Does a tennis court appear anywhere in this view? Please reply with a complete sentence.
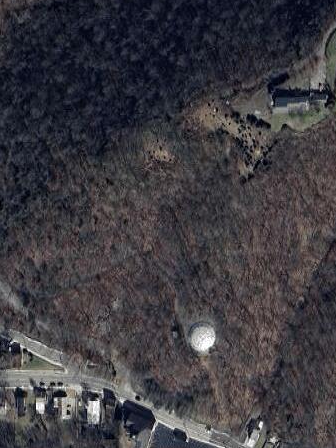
No, no tennis court can be seen from above.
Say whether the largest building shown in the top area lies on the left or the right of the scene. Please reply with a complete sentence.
The largest building shown in the top area sits on the right side.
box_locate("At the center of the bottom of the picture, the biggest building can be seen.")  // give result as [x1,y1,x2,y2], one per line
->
[122,397,156,430]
